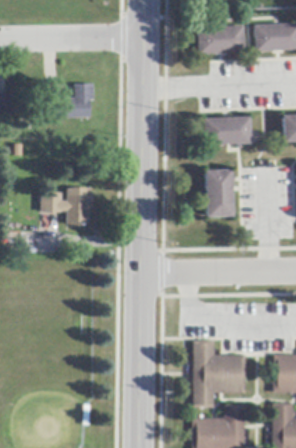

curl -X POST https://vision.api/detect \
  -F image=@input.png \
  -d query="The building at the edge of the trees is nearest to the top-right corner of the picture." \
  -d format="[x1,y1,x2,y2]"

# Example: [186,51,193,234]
[254,24,296,52]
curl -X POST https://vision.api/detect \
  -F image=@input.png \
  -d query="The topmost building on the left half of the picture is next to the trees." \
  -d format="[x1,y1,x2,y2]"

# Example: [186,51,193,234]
[68,83,96,120]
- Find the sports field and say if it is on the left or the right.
left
